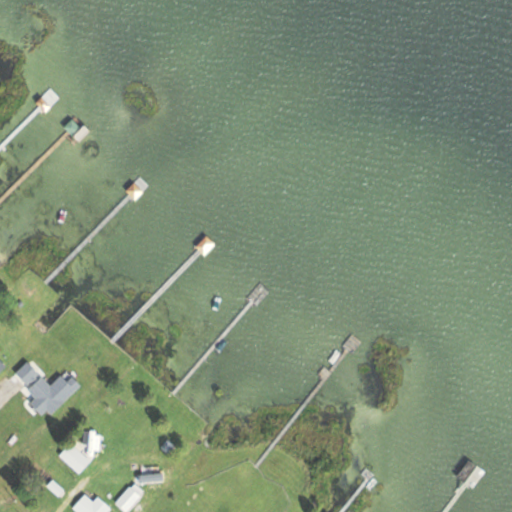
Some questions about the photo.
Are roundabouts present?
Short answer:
No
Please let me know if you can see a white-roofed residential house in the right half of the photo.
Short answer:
No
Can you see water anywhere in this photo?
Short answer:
Yes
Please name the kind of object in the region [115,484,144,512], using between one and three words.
house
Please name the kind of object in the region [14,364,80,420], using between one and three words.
house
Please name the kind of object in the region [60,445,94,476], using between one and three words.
building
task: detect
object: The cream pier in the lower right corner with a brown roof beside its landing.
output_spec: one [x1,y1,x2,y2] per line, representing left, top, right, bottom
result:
[442,461,486,512]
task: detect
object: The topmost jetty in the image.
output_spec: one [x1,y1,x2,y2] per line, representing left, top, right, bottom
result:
[0,89,59,154]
